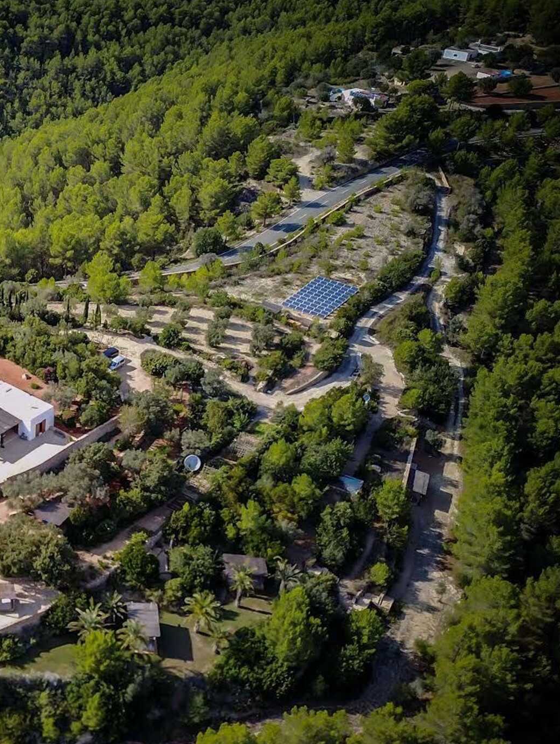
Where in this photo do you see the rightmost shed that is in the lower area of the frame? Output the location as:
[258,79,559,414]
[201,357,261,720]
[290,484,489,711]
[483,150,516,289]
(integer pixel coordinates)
[411,471,430,504]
